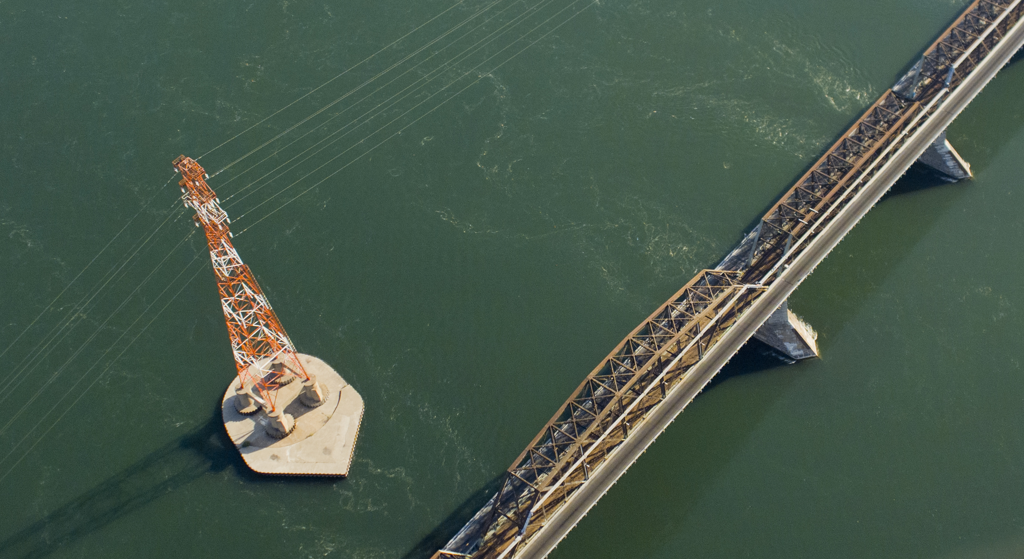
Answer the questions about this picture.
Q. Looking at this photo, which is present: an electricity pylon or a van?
electricity pylon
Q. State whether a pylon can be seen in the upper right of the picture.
No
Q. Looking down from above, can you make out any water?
Yes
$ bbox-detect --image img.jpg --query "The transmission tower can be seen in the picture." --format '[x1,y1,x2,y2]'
[172,153,312,412]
